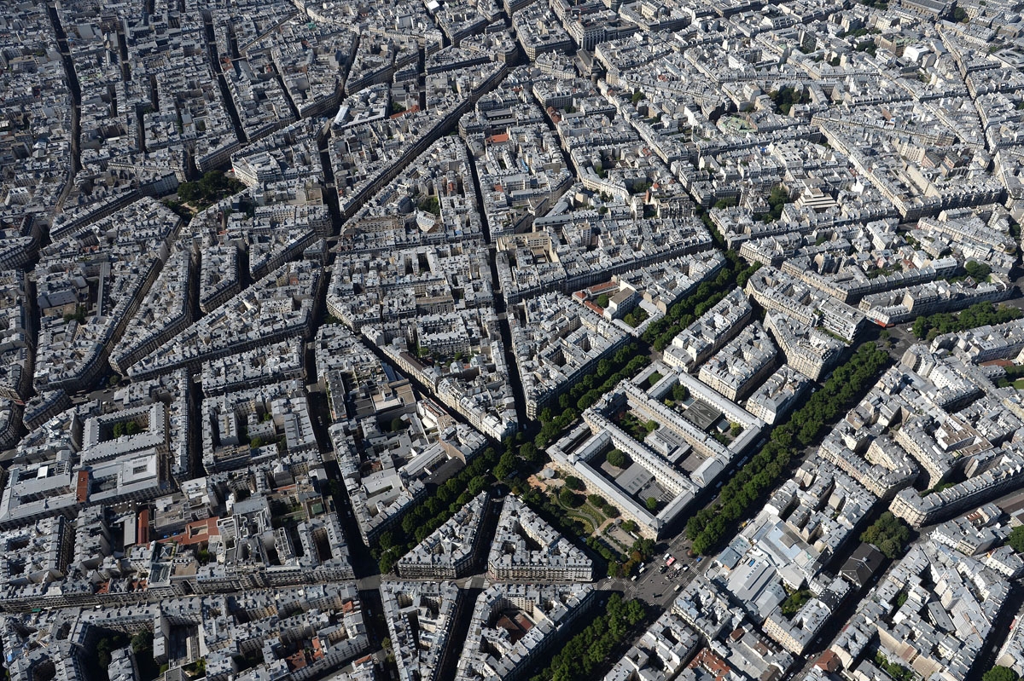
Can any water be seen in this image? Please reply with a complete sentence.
No, the scene doesn't show any water.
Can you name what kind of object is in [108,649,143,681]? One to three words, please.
building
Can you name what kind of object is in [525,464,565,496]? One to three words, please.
playground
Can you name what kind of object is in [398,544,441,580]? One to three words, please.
building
